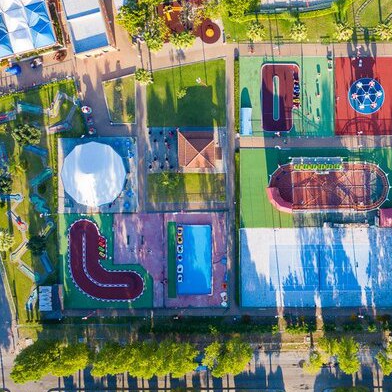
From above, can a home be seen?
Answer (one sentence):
Yes, there's a home here.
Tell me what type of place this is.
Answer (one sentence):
This looks like a sports ground.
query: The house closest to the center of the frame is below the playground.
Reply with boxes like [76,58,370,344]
[176,130,222,168]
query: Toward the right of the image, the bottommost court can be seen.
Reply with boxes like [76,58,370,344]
[240,228,392,308]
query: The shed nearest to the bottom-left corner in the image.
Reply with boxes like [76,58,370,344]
[39,284,67,316]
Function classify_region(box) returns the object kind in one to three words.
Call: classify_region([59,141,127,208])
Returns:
tent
